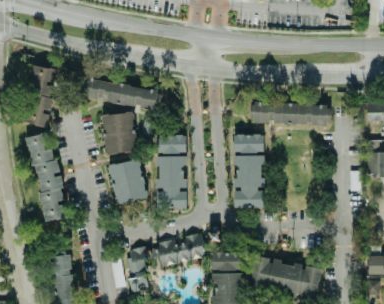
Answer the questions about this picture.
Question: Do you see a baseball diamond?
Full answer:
No, I can see no baseball diamond in this picture.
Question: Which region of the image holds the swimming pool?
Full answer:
The swimming pool is in the bottom part of the image.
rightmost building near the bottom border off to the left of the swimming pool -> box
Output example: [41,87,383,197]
[128,248,149,293]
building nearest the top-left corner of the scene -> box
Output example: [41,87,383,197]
[26,66,57,128]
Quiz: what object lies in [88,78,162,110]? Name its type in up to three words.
building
